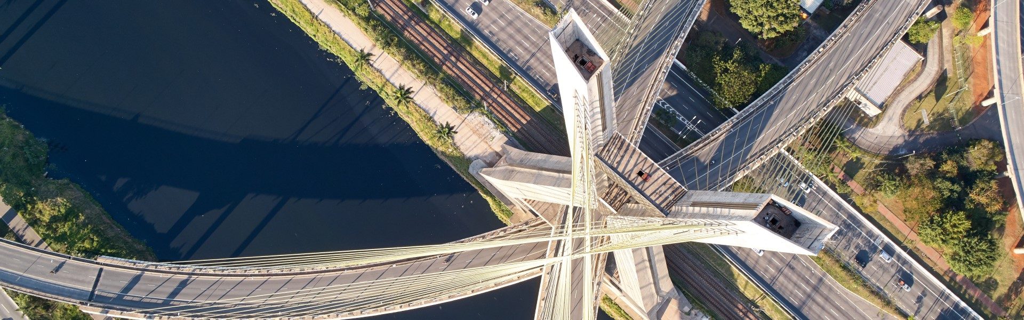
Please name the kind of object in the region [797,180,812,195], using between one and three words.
vehicle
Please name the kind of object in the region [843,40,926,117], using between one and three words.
shed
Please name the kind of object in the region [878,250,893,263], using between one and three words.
vehicle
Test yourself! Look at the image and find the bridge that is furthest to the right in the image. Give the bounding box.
[978,0,1024,255]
